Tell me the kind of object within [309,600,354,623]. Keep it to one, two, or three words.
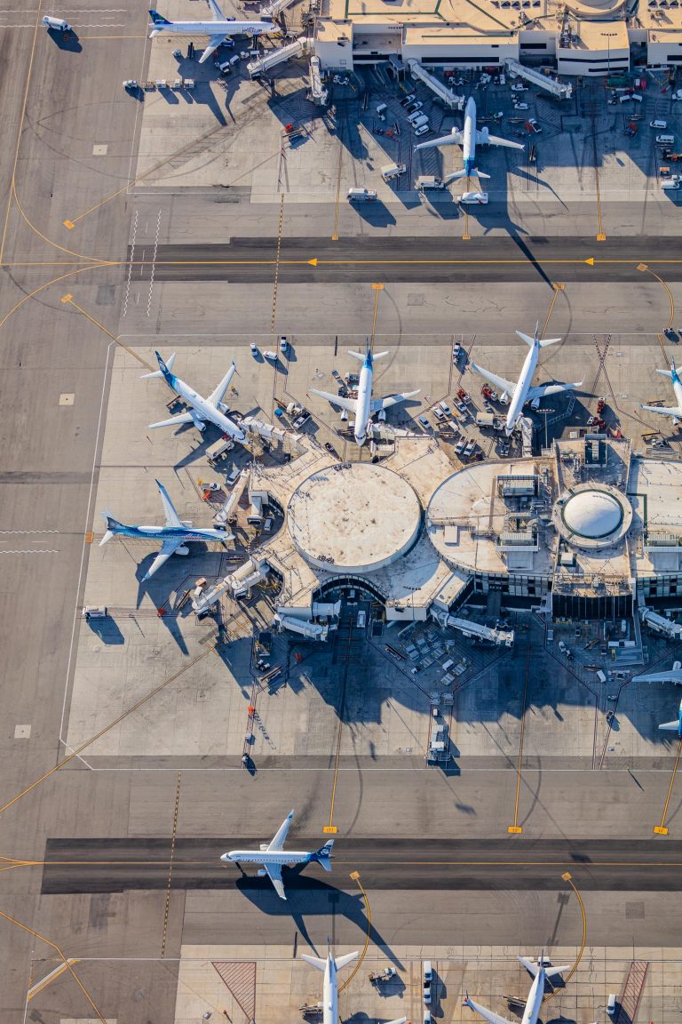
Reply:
jet bridge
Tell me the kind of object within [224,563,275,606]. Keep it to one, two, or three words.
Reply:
jet bridge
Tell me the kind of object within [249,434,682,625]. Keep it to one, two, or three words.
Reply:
building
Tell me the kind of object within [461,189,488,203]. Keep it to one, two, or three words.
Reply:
vehicle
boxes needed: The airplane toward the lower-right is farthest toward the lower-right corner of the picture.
[471,938,601,1024]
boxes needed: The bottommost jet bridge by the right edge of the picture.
[632,604,682,647]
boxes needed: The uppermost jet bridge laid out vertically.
[309,54,333,114]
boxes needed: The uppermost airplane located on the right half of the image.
[415,99,524,173]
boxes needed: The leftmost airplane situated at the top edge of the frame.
[147,0,280,64]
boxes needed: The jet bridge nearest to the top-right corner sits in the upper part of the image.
[503,57,579,101]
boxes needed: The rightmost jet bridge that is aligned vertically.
[514,412,536,459]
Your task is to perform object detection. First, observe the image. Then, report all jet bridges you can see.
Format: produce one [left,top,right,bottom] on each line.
[503,57,579,101]
[240,410,308,452]
[425,605,520,649]
[272,608,338,647]
[241,37,315,85]
[309,54,333,114]
[412,58,469,113]
[360,421,437,443]
[248,491,266,535]
[632,604,682,647]
[309,600,354,623]
[224,563,275,606]
[184,551,258,623]
[204,462,253,530]
[514,412,536,459]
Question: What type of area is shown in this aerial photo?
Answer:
airport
